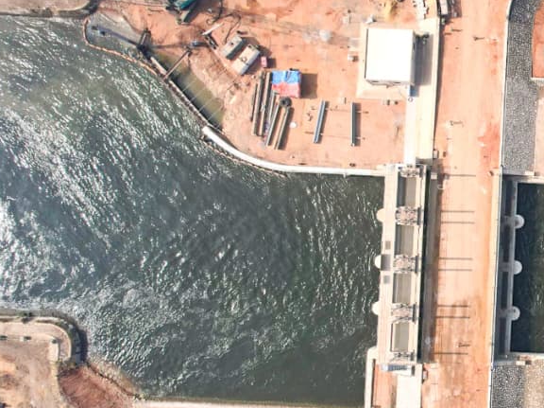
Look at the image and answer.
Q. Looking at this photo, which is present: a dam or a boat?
dam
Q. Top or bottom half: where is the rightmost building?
top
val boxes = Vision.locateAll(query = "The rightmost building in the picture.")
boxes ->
[356,22,419,95]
